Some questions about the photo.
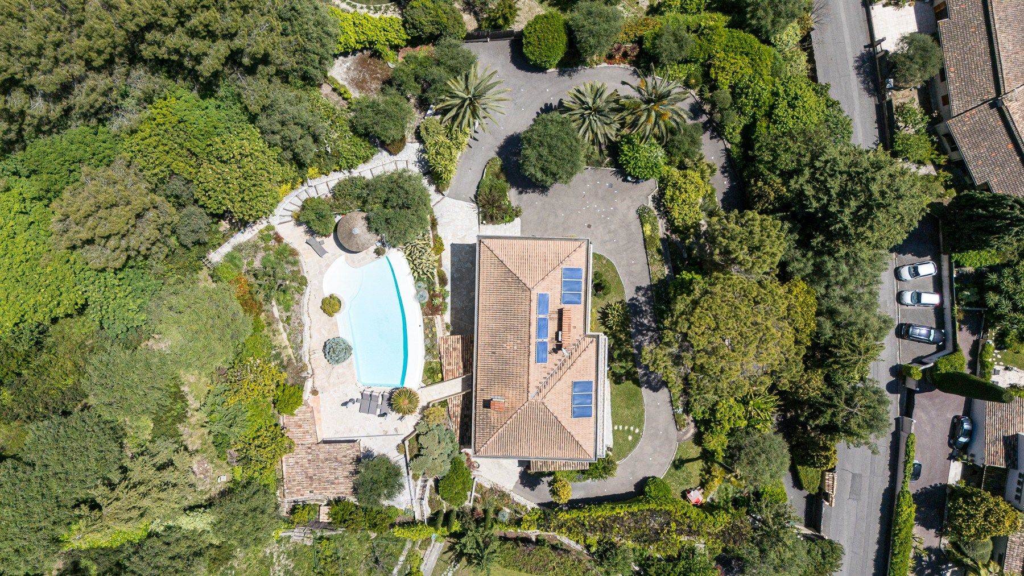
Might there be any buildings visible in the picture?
Yes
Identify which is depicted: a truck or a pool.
pool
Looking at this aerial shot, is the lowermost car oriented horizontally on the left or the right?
right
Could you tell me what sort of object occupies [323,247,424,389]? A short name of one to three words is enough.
swimming pool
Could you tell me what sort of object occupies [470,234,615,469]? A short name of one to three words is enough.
house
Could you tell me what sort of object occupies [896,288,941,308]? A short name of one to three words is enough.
car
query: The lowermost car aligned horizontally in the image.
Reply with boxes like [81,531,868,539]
[898,323,943,345]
